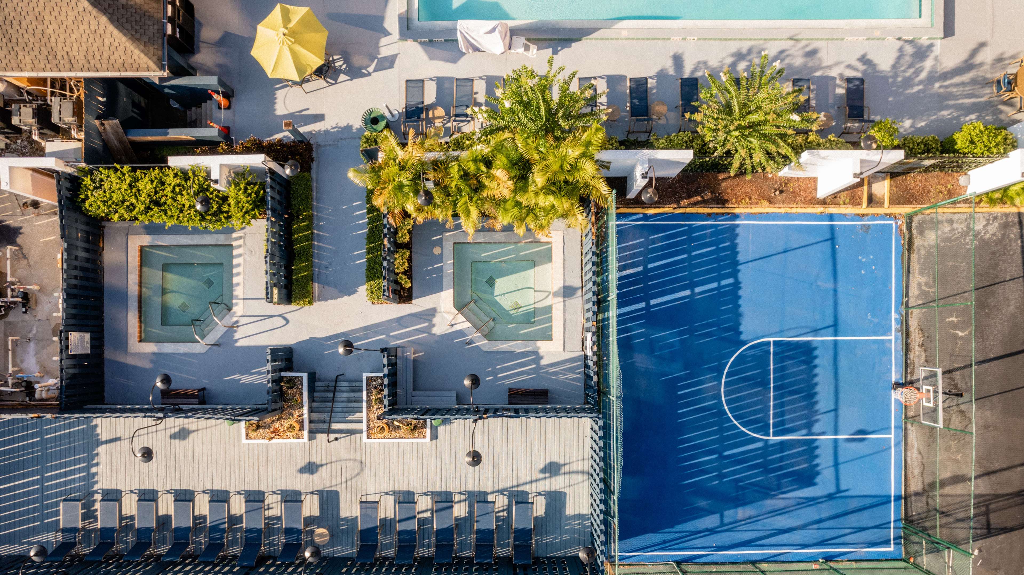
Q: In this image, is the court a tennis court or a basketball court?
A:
basketball court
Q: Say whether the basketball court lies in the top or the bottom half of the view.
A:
bottom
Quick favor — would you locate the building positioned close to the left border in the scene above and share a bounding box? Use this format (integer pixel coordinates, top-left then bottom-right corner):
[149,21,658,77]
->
[0,0,184,78]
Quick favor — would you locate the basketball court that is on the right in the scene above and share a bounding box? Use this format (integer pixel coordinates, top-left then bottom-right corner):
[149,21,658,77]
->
[596,209,902,561]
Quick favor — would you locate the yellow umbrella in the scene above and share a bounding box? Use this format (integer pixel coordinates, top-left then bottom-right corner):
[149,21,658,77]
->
[251,3,329,80]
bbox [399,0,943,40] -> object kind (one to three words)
swimming pool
